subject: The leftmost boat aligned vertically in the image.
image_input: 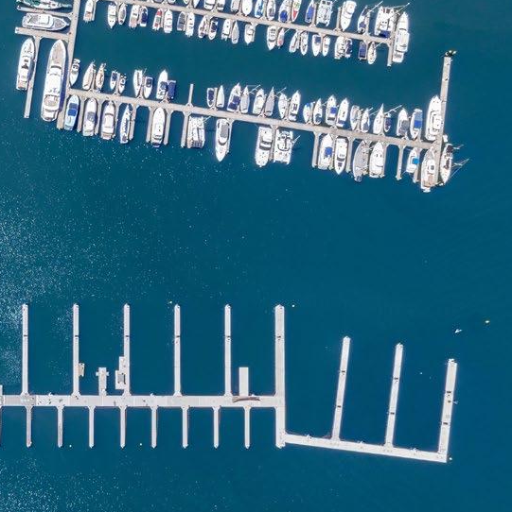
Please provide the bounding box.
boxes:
[15,37,34,92]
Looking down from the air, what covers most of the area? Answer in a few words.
water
